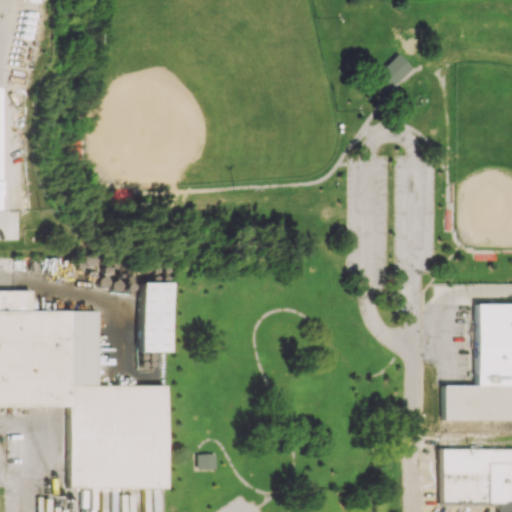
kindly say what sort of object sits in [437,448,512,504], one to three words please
building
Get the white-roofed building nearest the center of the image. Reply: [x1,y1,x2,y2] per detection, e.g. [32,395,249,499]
[138,282,177,353]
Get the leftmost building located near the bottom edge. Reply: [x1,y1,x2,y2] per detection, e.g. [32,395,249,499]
[65,386,166,488]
